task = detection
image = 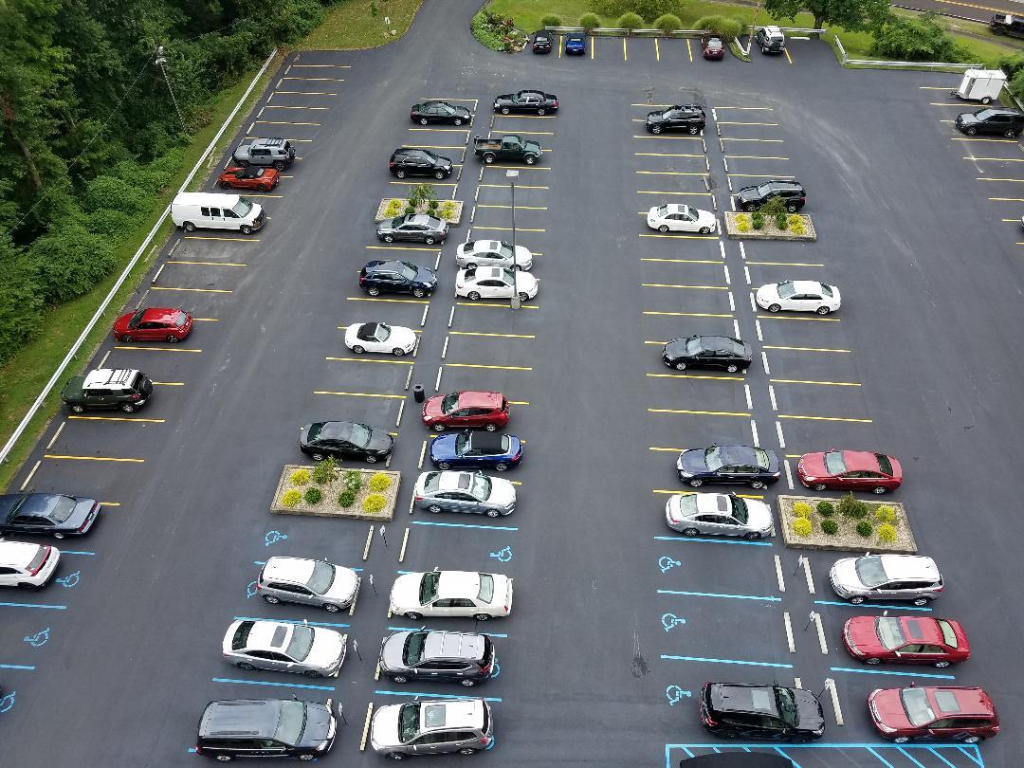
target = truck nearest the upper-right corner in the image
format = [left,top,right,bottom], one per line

[989,3,1024,31]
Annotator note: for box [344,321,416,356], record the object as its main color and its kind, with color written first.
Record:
white car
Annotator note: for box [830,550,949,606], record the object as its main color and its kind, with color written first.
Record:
white car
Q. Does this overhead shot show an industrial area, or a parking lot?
parking lot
